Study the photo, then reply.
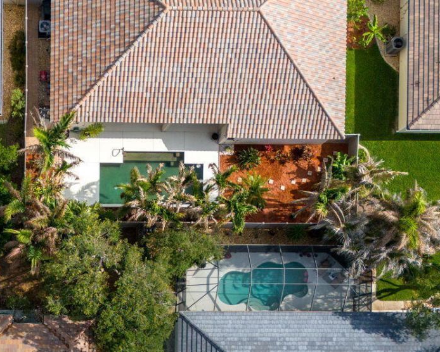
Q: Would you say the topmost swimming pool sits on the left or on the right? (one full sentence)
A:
The topmost swimming pool is on the left side of the image.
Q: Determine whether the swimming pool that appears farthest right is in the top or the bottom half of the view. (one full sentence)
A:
The bottom half of the photo is where the swimming pool that appears farthest right is.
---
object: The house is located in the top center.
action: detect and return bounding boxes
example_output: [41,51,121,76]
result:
[49,0,348,144]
